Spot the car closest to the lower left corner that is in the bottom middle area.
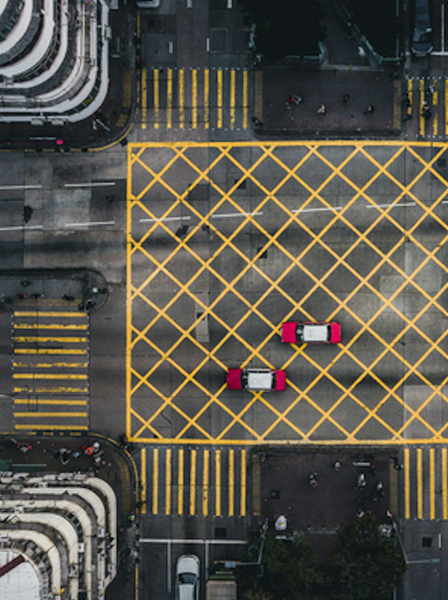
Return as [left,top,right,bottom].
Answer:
[174,551,200,600]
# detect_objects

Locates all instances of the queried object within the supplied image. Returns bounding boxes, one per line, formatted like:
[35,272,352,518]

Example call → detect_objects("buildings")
[0,468,124,600]
[0,0,118,130]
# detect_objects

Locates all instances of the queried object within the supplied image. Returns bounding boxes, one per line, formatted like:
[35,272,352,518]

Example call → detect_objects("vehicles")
[174,551,200,600]
[225,365,288,393]
[280,319,343,347]
[137,0,161,10]
[208,551,240,600]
